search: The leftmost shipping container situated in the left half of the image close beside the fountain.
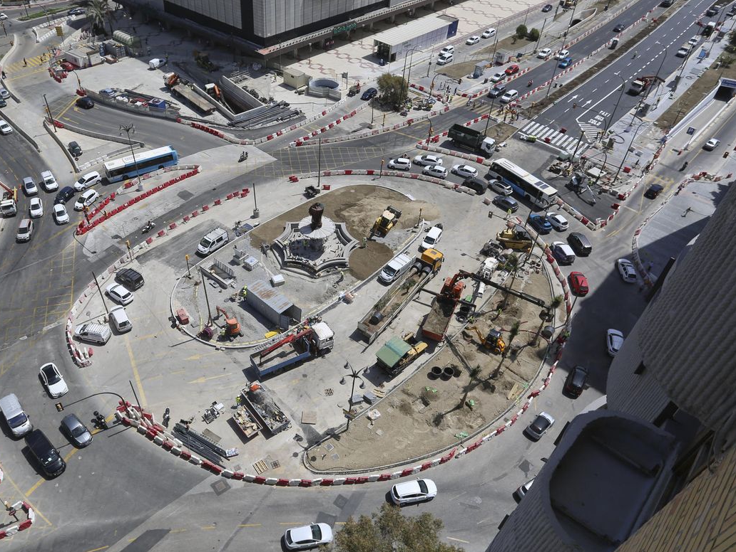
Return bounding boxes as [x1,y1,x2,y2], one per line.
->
[247,285,307,345]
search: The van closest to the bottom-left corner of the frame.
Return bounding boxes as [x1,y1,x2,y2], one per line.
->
[24,432,65,479]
